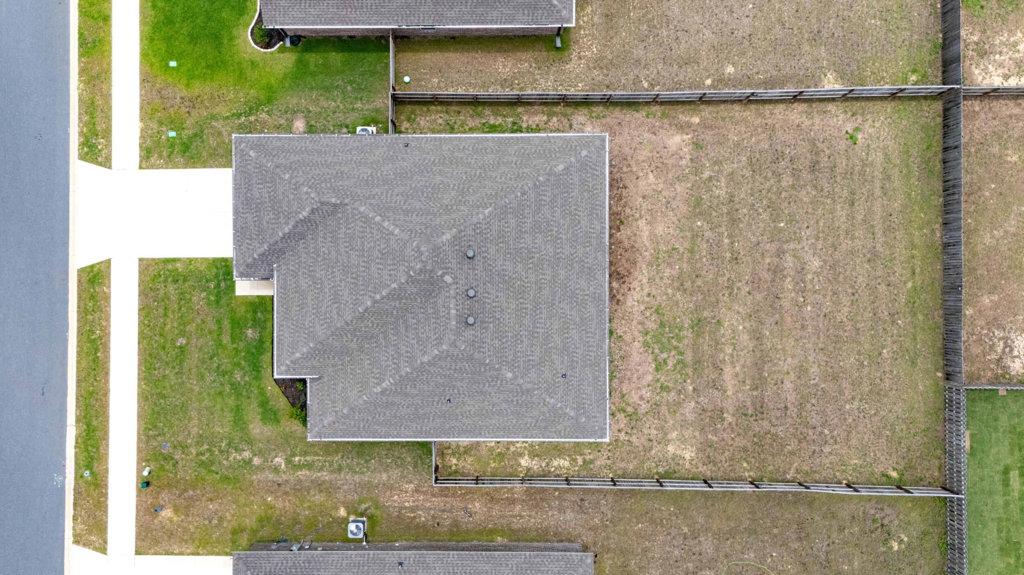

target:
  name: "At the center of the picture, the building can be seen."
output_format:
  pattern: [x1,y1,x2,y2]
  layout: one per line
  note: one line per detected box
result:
[233,133,609,441]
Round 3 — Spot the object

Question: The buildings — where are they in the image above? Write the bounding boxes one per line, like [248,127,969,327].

[232,542,598,575]
[260,0,576,39]
[233,133,609,441]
